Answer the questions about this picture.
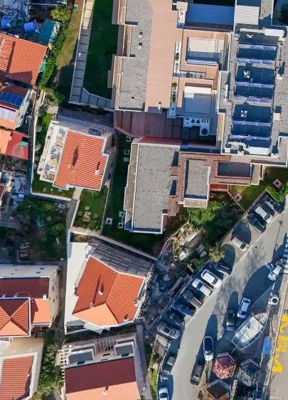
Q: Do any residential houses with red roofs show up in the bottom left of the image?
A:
Yes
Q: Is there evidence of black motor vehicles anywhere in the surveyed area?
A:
Yes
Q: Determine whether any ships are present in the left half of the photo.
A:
No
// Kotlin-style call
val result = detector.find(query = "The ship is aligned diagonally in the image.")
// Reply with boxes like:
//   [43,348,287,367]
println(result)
[227,314,267,356]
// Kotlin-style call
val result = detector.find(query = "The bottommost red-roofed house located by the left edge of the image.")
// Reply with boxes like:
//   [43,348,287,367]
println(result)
[0,341,46,400]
